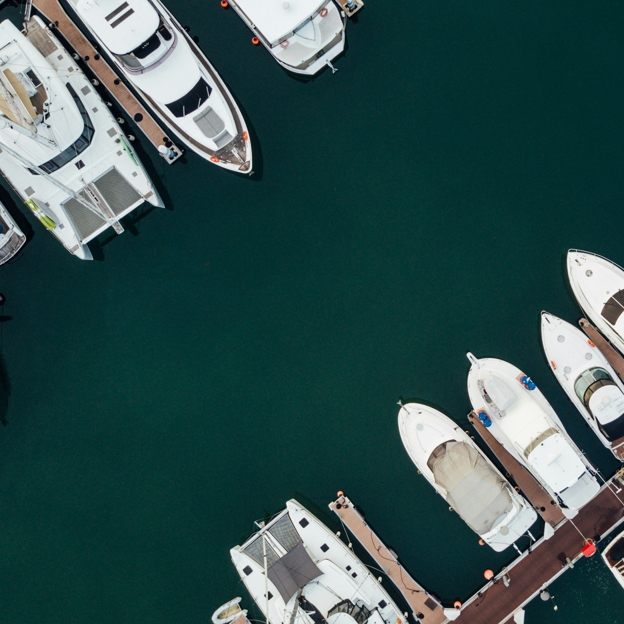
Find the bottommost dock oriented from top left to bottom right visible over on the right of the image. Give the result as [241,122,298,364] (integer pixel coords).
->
[332,495,460,624]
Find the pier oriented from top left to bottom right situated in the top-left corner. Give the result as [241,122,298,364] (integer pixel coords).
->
[29,0,184,165]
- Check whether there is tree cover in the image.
No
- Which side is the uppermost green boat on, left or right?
left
